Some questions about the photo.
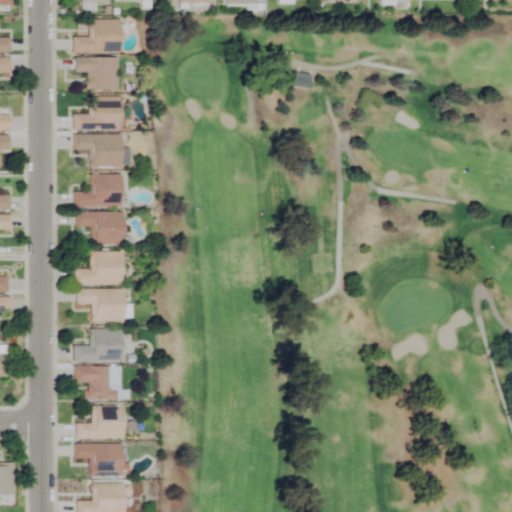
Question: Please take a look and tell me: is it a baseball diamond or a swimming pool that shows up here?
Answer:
swimming pool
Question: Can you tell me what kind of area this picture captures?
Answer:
golf course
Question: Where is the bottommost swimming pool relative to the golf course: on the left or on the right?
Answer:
left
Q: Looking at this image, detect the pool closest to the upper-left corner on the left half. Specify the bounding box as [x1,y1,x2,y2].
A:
[122,16,142,54]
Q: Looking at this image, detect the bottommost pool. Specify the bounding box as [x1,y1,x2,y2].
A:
[130,453,158,478]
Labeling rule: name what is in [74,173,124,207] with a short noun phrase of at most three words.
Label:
house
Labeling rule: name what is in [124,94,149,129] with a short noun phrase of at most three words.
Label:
swimming pool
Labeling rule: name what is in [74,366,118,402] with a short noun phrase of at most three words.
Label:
house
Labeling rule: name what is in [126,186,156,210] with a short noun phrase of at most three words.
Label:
swimming pool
